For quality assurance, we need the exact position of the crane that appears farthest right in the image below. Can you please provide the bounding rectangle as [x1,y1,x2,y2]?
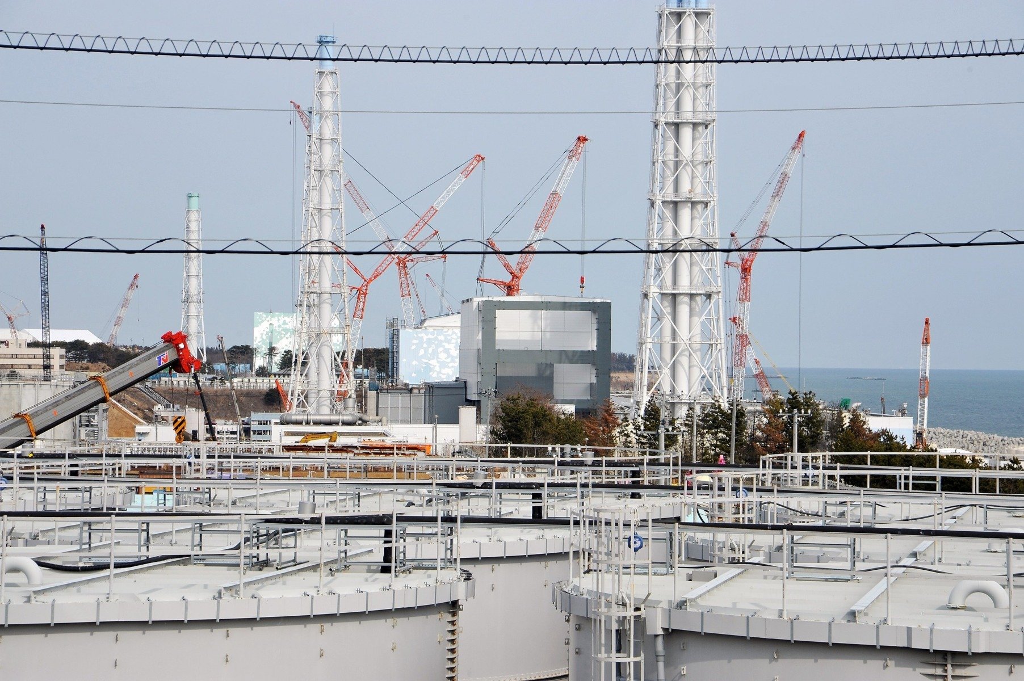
[915,318,930,452]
